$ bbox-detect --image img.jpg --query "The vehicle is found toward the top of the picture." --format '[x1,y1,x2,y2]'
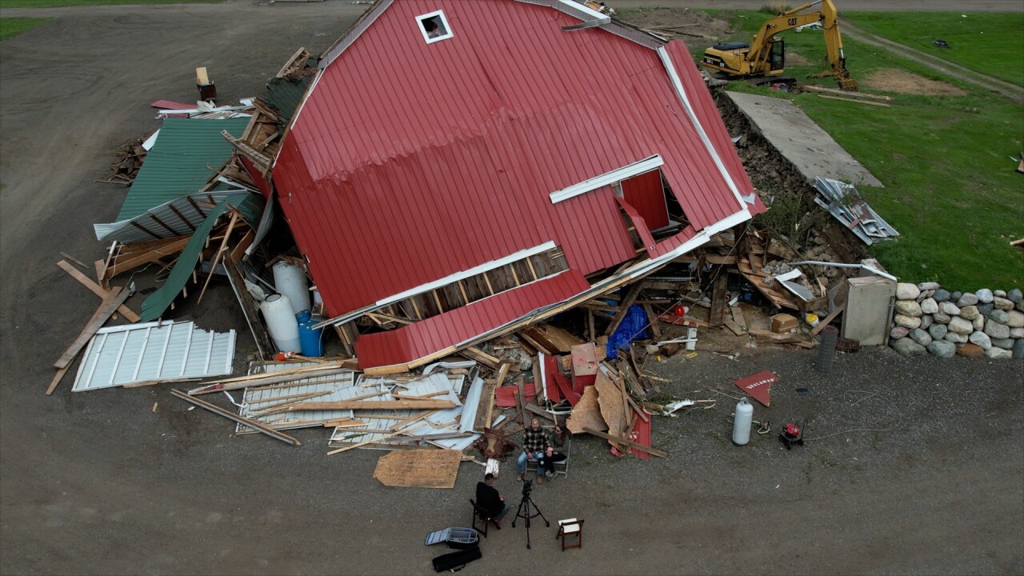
[710,0,857,92]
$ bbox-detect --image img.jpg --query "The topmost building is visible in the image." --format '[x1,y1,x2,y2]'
[269,0,767,377]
